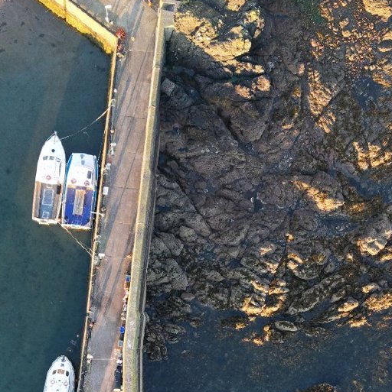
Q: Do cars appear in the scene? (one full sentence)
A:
No, I can't see a single car in this photo.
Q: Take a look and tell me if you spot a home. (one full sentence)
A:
No, I find no home anywhere in the image.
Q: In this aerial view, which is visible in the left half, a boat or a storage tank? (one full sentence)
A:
The feature located in the left half is a boat.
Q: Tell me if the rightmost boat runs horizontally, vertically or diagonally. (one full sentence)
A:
From this overhead view, the rightmost boat appears to run vertically.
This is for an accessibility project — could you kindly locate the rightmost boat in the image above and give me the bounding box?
[61,152,96,229]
